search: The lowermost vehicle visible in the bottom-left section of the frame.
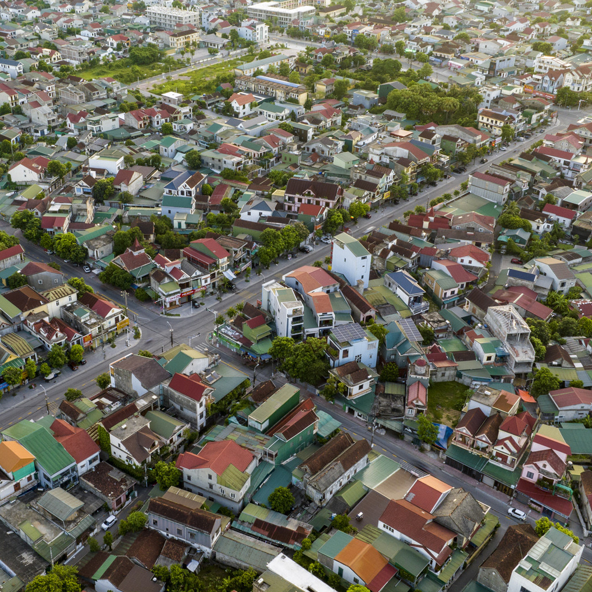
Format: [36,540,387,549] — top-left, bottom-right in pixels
[99,512,120,531]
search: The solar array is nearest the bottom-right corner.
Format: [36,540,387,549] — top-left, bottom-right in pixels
[403,318,423,345]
